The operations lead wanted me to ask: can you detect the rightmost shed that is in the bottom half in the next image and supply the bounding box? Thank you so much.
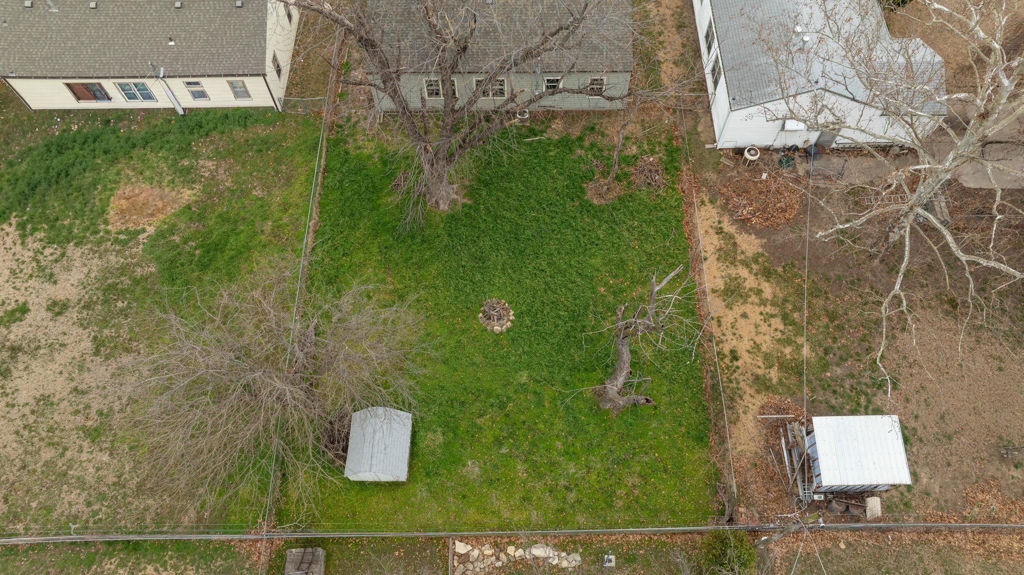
[806,415,917,492]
